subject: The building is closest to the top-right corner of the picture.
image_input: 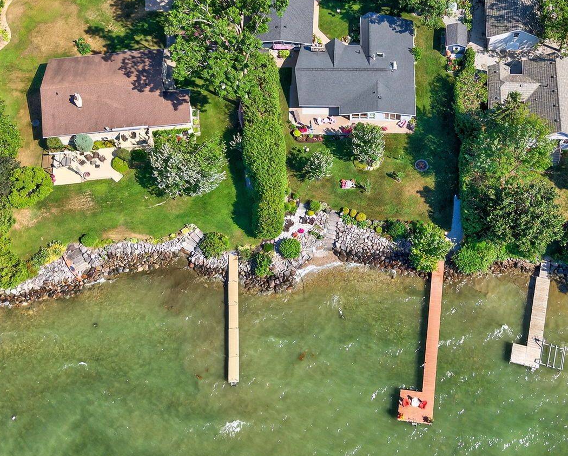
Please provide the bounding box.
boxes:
[484,0,541,57]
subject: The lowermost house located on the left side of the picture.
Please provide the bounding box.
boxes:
[39,49,194,146]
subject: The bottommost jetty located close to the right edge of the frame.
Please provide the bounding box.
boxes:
[508,277,550,369]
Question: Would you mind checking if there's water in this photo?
Yes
